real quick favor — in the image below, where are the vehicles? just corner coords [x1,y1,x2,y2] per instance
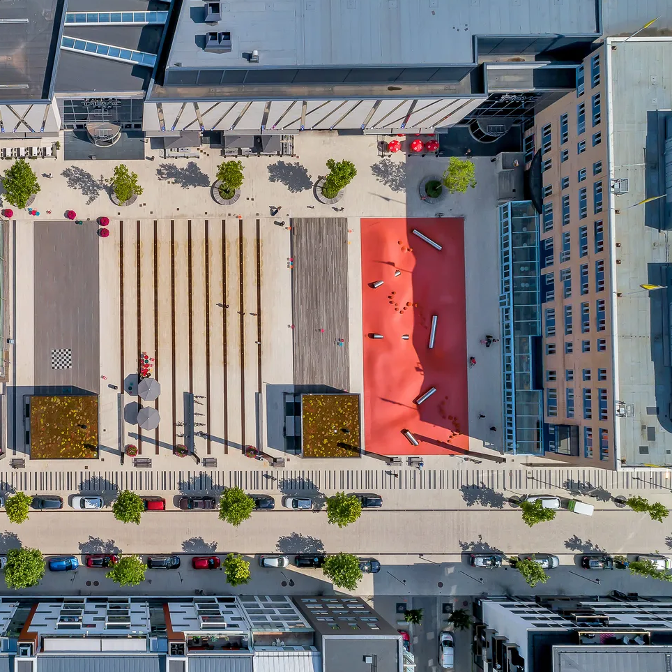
[147,555,180,571]
[31,496,63,511]
[438,630,456,668]
[636,555,671,570]
[397,627,411,656]
[244,497,275,511]
[136,497,165,511]
[180,496,216,512]
[347,494,382,509]
[564,499,599,516]
[524,496,561,510]
[0,556,7,570]
[85,555,118,569]
[48,556,79,572]
[258,554,289,570]
[351,559,380,574]
[284,497,314,511]
[580,555,612,571]
[292,554,324,570]
[525,554,557,570]
[469,554,502,570]
[73,496,105,511]
[191,556,220,571]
